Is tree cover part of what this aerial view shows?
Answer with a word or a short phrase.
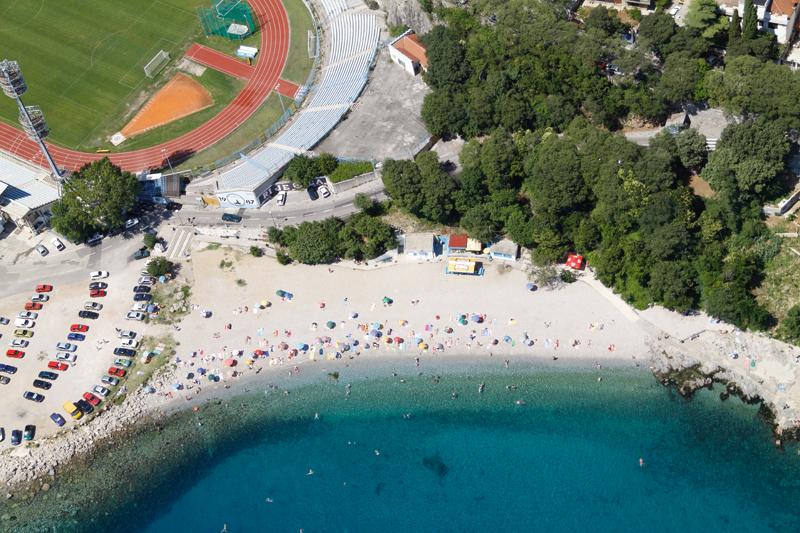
Yes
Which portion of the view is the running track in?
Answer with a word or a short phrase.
top left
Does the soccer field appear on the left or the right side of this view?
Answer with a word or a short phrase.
left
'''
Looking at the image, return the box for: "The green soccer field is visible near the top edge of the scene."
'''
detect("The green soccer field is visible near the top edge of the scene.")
[0,0,262,152]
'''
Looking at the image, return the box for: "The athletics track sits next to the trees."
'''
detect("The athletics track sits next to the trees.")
[0,0,291,175]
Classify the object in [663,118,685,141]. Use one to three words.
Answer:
house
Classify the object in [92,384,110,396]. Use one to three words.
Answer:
vehicle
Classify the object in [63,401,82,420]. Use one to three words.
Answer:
vehicle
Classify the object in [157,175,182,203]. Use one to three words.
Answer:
shed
